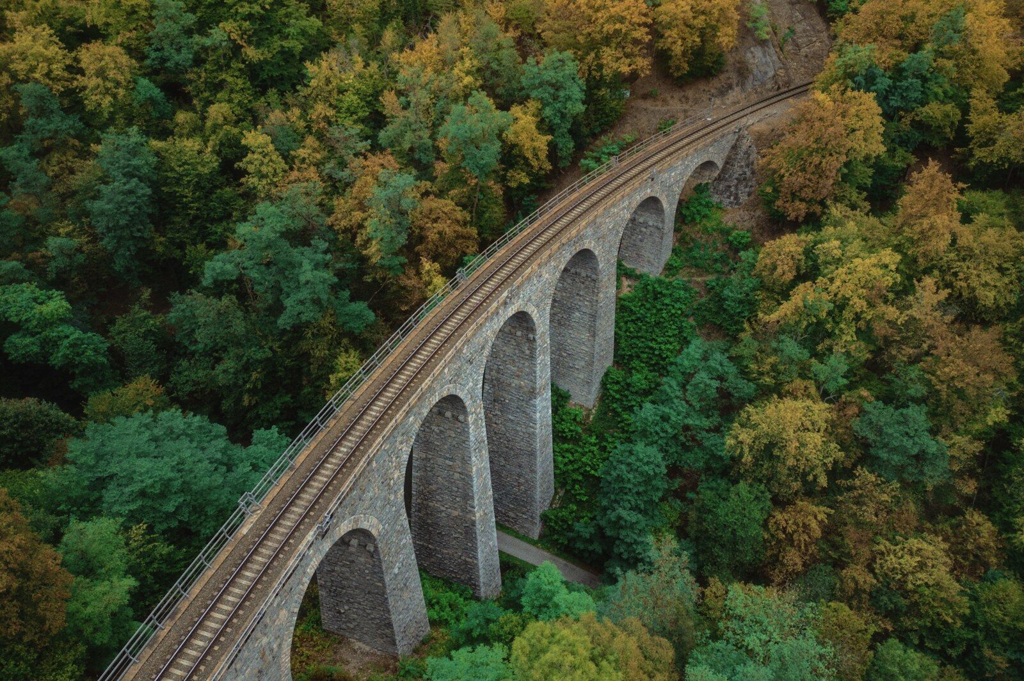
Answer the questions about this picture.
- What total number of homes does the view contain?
0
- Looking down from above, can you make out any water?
No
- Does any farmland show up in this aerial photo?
No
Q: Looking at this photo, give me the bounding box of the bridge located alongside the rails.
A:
[120,113,750,681]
